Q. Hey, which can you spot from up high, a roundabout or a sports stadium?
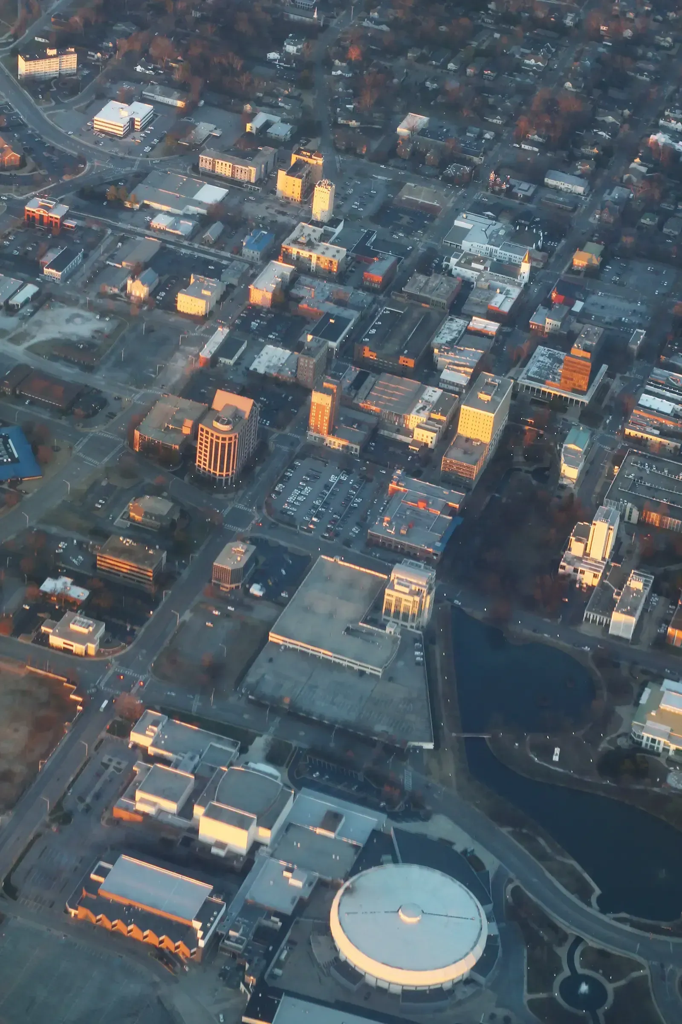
sports stadium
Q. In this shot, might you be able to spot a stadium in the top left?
No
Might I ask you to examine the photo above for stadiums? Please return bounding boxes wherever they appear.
[315,833,501,1008]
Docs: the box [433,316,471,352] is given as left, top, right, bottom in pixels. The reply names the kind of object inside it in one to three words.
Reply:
building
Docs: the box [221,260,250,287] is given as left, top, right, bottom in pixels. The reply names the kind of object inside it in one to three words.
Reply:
building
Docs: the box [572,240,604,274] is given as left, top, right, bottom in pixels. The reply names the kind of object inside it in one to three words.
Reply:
house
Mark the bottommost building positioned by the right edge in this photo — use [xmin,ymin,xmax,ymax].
[630,679,682,760]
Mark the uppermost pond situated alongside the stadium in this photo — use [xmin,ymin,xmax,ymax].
[453,618,682,922]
